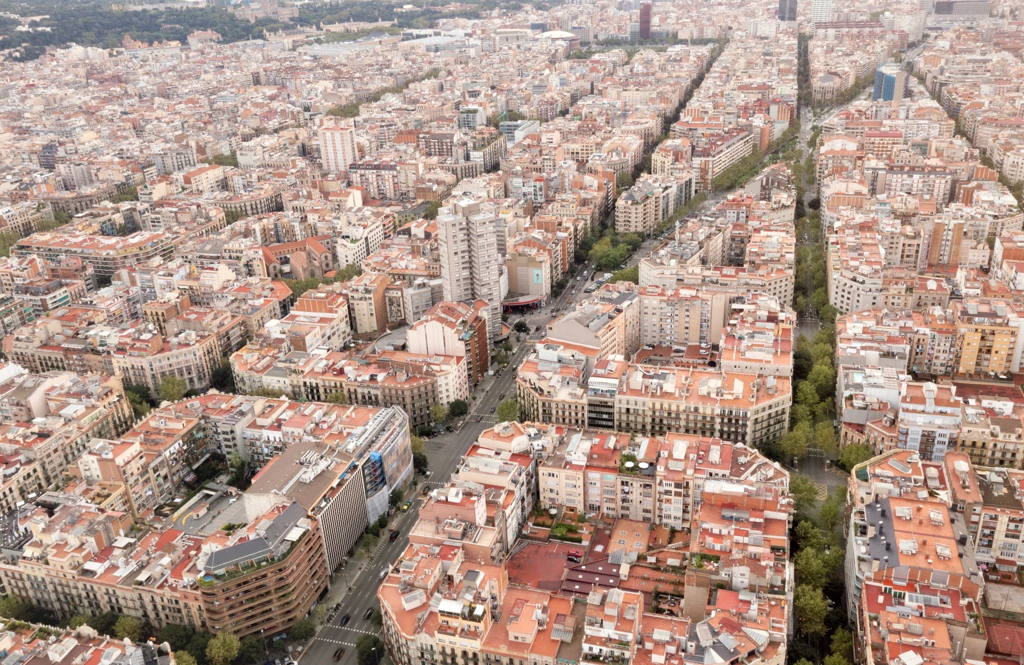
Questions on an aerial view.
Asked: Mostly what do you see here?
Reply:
buildings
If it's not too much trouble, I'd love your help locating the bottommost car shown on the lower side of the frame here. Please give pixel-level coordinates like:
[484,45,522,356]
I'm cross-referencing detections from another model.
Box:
[331,647,344,660]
